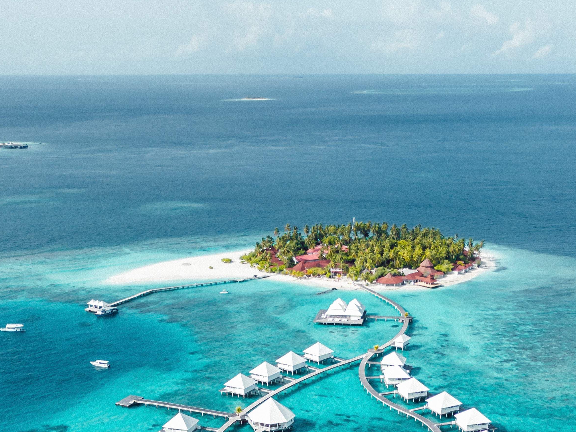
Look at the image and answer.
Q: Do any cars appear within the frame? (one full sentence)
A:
No, there's no car here.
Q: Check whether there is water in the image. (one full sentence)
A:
Yes, some water is visible.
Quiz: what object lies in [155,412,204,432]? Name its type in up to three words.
house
